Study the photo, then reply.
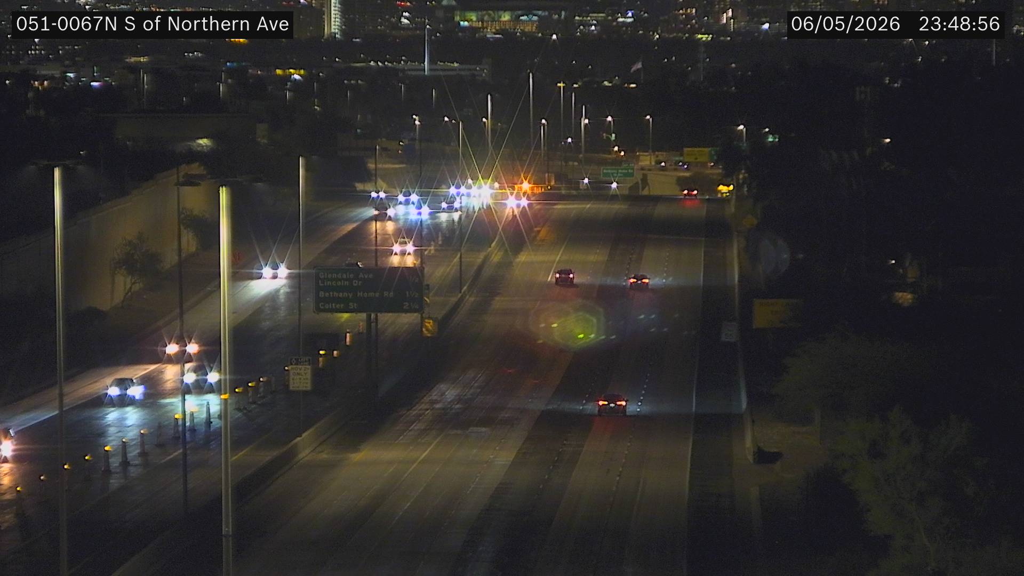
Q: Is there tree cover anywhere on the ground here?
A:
Yes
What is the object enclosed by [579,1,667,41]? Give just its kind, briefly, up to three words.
building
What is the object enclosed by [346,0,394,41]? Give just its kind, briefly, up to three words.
building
